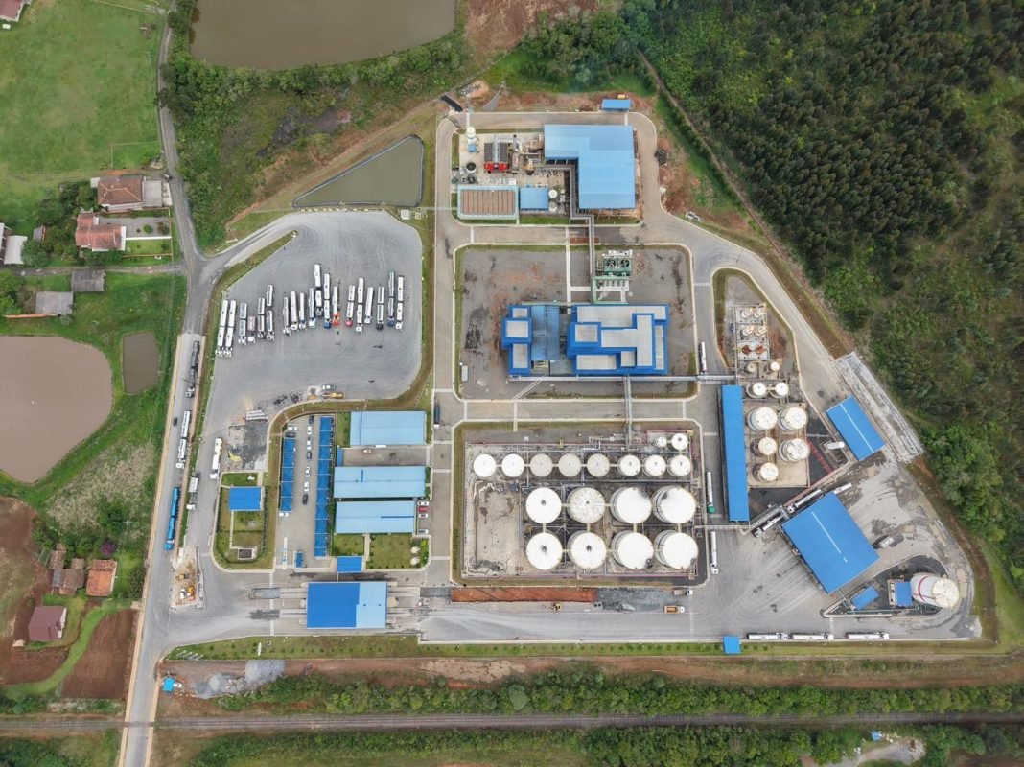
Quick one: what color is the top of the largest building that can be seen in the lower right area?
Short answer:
blue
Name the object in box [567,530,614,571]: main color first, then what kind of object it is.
white storage tank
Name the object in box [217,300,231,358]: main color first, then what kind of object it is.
white vehicle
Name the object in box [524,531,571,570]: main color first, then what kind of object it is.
white storage tank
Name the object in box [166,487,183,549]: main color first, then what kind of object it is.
blue vehicle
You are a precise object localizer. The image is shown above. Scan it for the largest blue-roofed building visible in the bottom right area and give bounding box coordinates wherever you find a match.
[889,581,913,606]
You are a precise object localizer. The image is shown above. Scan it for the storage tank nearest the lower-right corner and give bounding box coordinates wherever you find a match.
[910,574,960,607]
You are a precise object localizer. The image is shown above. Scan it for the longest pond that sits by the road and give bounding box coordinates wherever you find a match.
[296,136,423,205]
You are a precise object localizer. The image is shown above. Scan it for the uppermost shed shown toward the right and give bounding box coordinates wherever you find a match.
[602,99,631,114]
